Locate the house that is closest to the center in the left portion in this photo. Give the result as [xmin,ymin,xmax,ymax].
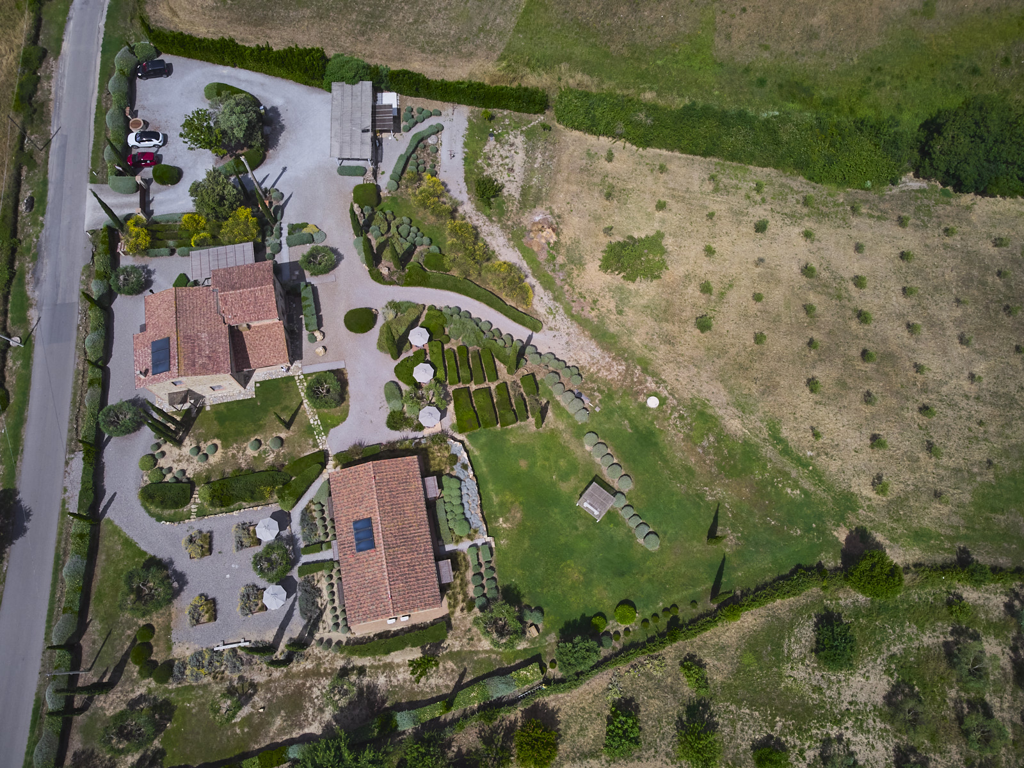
[329,456,442,627]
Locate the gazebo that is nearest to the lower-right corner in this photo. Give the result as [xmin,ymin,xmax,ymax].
[576,483,615,523]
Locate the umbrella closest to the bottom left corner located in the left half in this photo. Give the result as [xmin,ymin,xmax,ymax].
[263,586,287,609]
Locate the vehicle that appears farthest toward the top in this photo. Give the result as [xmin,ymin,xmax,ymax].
[138,58,170,79]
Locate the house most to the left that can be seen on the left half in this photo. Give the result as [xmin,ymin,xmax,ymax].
[132,259,291,397]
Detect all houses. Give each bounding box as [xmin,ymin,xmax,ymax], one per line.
[329,456,442,627]
[132,259,291,397]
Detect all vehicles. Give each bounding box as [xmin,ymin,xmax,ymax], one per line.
[138,58,170,79]
[127,150,160,170]
[129,129,166,150]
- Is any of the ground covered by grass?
Yes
